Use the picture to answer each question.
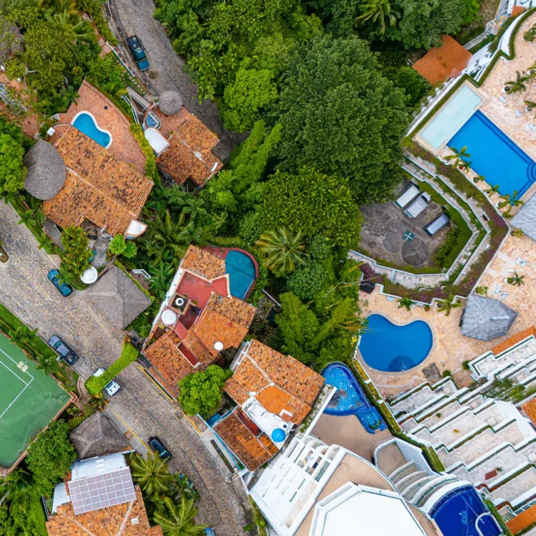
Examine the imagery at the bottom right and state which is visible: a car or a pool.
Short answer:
pool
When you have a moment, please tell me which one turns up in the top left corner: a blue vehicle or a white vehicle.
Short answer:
blue vehicle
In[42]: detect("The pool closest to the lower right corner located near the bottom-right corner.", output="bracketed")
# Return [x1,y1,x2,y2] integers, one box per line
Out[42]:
[424,479,506,536]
